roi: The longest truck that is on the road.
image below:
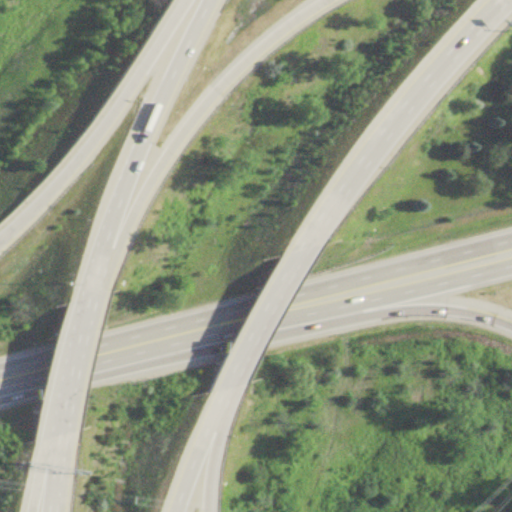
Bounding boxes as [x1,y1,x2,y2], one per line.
[142,101,164,144]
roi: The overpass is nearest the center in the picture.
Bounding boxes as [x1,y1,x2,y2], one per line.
[210,260,318,391]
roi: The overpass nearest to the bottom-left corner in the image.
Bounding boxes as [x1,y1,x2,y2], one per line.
[34,303,111,443]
